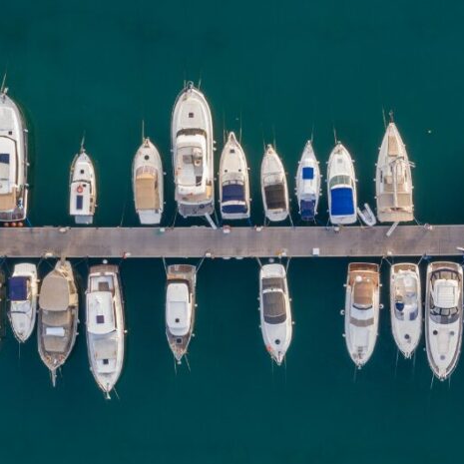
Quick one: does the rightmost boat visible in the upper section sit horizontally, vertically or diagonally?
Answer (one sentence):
In this picture, the rightmost boat visible in the upper section is oriented vertically.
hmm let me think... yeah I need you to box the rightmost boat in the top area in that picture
[371,111,426,235]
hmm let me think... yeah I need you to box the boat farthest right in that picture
[422,256,464,390]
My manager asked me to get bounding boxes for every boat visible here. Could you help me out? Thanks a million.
[293,135,323,227]
[371,111,426,235]
[171,80,219,228]
[82,255,129,398]
[259,140,293,227]
[422,256,464,390]
[164,255,203,370]
[5,256,41,349]
[385,254,426,372]
[67,136,98,228]
[256,254,295,376]
[360,202,379,224]
[322,131,364,227]
[215,124,253,226]
[340,254,393,381]
[125,133,166,227]
[35,251,82,385]
[0,75,31,226]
